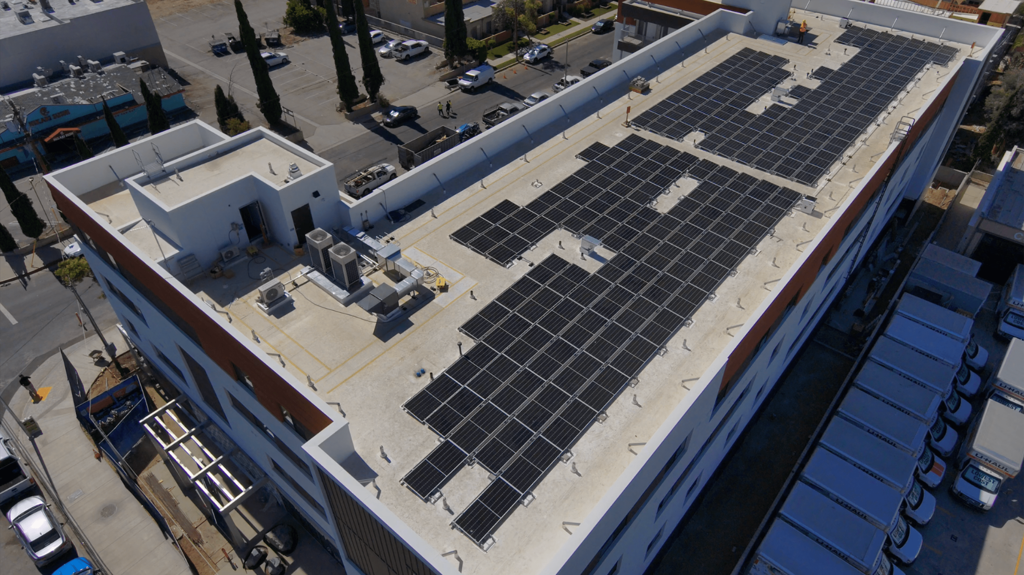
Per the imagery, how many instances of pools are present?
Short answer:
none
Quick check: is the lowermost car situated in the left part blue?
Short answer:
Yes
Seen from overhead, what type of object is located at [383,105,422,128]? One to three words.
car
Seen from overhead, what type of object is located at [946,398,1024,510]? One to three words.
truck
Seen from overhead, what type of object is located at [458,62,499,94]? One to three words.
van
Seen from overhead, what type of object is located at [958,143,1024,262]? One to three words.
building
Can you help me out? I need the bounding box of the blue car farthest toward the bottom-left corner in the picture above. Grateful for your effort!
[48,552,99,575]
